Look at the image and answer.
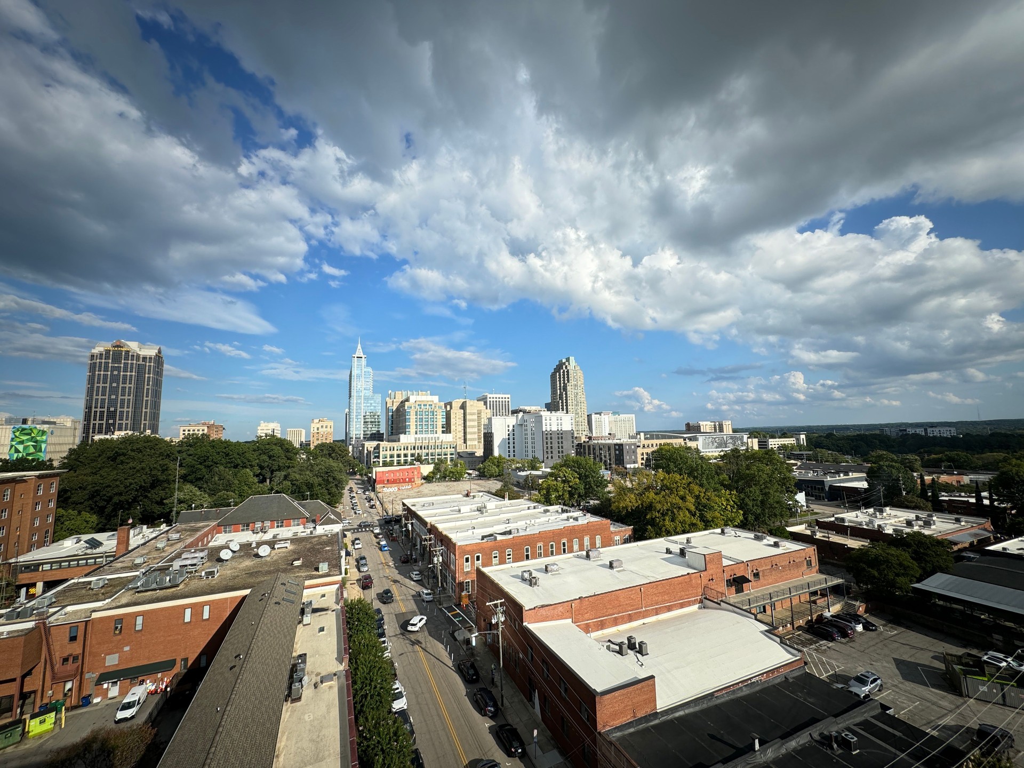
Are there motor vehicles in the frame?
Yes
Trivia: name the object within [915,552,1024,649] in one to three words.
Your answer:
building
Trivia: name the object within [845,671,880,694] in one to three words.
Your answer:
car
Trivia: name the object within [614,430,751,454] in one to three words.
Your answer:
building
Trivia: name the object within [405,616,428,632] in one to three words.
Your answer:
car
